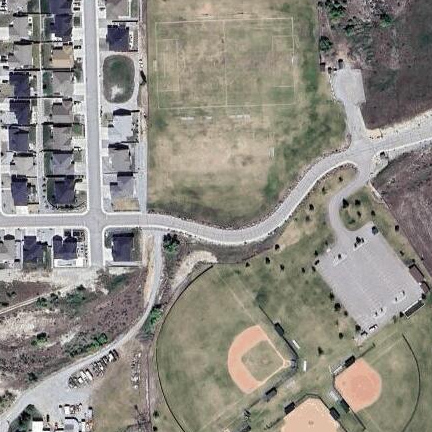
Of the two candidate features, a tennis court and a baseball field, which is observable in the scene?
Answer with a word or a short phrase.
baseball field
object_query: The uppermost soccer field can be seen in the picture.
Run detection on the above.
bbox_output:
[147,0,347,223]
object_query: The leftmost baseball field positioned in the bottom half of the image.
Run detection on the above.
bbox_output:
[227,325,290,394]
